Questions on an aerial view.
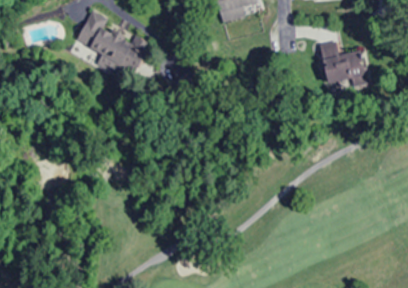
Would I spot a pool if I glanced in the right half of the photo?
No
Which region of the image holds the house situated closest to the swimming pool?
top left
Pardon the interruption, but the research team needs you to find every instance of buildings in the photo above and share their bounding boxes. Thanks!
[320,42,370,88]
[219,0,264,22]
[73,7,148,73]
